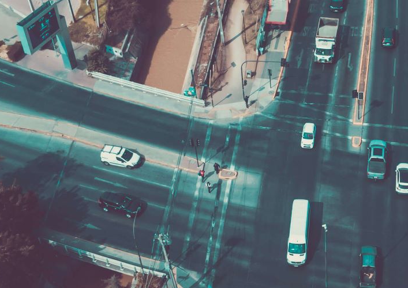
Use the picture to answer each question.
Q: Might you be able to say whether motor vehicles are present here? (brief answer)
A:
Yes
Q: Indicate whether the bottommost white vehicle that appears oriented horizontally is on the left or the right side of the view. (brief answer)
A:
left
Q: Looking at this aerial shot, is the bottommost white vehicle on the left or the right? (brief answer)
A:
right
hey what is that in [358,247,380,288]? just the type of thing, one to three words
truck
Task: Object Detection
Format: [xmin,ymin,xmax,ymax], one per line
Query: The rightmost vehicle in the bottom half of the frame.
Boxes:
[395,163,408,196]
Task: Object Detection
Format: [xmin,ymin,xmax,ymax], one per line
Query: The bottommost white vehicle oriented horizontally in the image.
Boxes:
[99,143,141,168]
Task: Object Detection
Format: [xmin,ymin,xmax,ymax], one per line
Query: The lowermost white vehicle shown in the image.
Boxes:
[285,199,310,264]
